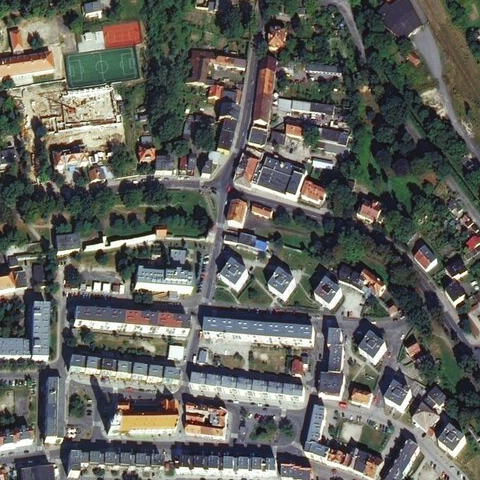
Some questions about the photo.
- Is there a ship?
No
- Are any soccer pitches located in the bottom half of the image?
No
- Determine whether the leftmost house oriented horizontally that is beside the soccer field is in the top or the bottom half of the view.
top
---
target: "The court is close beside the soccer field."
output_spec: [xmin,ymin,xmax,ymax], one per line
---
[103,21,142,49]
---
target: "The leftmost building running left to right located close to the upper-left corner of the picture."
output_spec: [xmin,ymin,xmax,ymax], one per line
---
[0,52,54,81]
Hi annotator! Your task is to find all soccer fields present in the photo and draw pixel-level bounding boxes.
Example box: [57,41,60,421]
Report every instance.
[65,46,139,89]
